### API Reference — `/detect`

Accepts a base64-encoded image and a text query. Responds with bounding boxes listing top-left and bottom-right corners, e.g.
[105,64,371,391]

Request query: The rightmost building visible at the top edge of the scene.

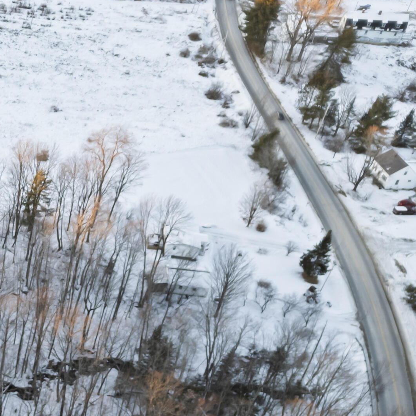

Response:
[331,5,414,47]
